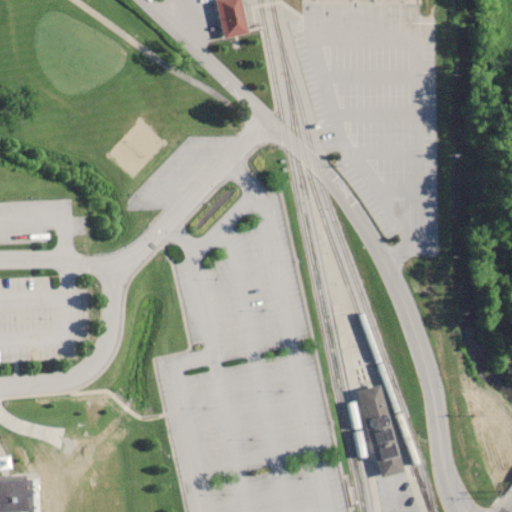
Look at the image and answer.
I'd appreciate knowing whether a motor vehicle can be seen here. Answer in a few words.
Yes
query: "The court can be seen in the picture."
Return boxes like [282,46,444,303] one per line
[106,117,168,178]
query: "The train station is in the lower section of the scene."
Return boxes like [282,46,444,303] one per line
[311,192,426,512]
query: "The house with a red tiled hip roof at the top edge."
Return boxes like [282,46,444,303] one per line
[213,0,248,38]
